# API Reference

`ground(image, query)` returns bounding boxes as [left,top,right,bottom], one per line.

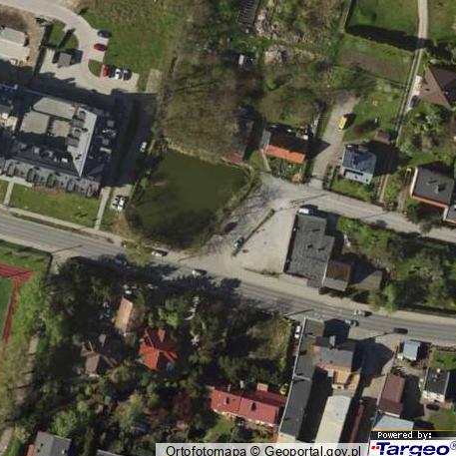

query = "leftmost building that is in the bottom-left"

[33,432,72,456]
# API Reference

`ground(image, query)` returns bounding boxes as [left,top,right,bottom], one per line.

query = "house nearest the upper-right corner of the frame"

[419,66,456,108]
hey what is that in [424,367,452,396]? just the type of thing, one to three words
house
